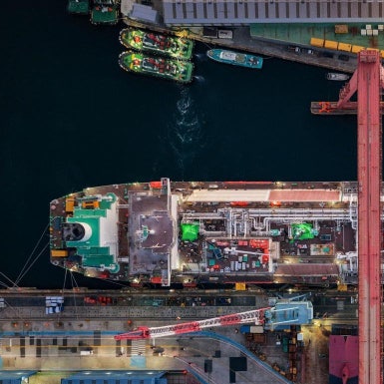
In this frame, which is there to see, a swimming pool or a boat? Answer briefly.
boat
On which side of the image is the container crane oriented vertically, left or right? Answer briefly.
right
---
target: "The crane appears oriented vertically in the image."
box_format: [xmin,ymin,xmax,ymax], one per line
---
[318,49,384,384]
